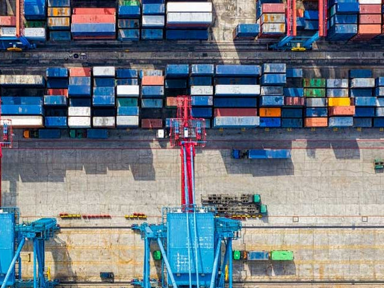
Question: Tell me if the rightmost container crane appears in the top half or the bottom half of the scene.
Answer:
top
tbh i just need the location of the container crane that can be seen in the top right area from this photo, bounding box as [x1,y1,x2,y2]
[261,0,330,52]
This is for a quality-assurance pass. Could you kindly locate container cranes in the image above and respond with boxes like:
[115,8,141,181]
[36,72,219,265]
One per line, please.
[134,96,242,288]
[0,0,44,52]
[0,96,69,288]
[261,0,330,52]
